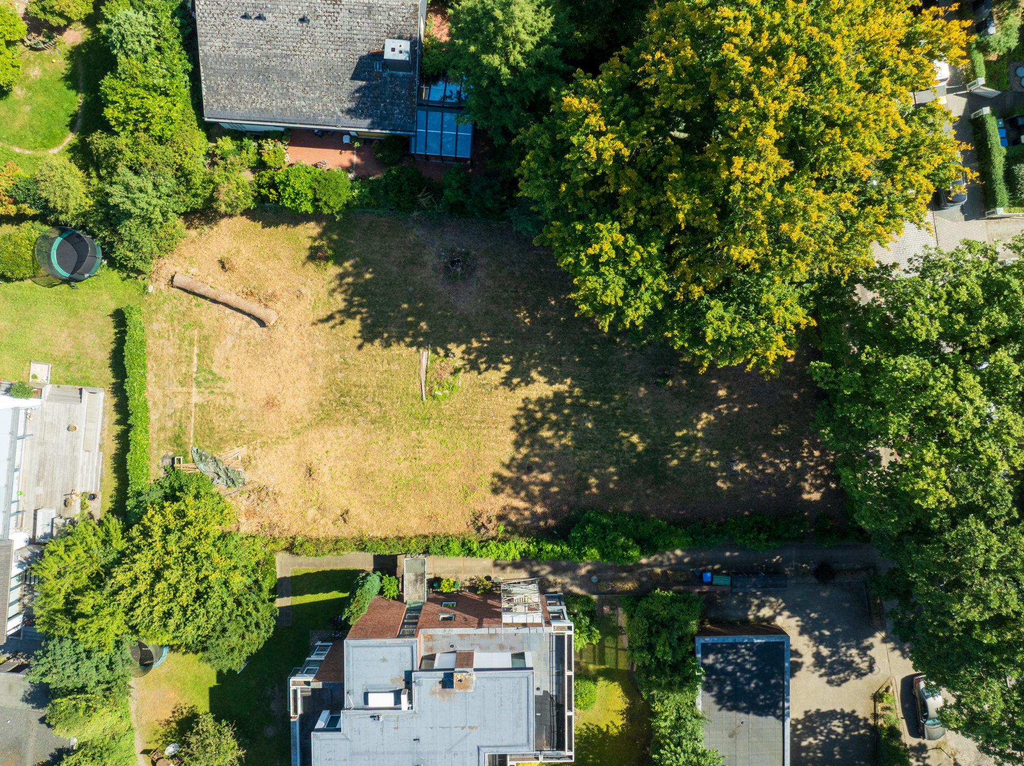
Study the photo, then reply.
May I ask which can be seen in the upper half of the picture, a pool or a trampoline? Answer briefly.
trampoline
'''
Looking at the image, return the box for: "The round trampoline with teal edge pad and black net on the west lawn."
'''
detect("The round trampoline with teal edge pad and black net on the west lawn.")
[32,222,108,288]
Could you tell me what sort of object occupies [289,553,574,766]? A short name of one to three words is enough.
building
